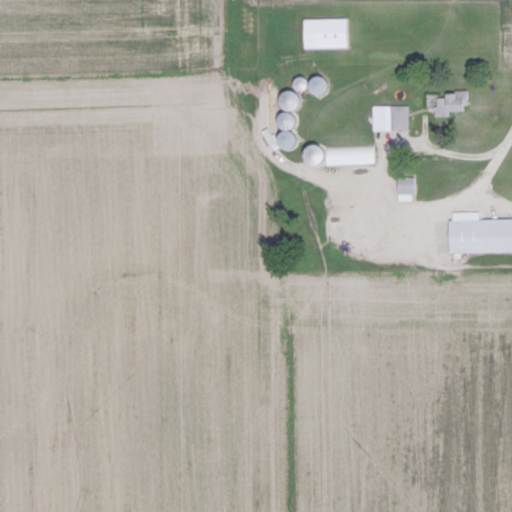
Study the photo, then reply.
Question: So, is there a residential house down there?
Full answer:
Yes, I can see a residential house in this picture.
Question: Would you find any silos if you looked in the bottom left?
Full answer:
No, I see no silo in the bottom left.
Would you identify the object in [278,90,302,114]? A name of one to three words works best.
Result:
silo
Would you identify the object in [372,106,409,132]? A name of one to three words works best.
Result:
building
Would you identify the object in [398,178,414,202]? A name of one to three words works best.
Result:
shed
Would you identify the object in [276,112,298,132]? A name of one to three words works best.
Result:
silo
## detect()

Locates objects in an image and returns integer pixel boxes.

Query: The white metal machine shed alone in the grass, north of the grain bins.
[304,19,347,50]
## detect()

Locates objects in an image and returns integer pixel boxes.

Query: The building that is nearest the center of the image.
[326,148,375,166]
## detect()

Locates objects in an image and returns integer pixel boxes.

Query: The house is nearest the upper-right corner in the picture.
[426,90,472,118]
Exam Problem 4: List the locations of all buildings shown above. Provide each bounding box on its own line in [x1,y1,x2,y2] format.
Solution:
[304,19,347,50]
[326,148,375,166]
[372,106,409,132]
[449,212,512,254]
[398,178,414,202]
[426,90,472,118]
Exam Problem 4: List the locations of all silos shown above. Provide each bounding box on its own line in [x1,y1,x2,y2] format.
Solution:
[276,112,298,132]
[308,76,330,98]
[278,90,302,114]
[292,76,308,94]
[277,130,300,153]
[302,144,326,168]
